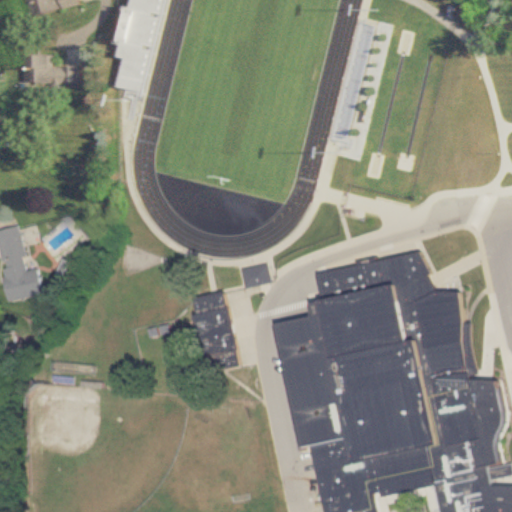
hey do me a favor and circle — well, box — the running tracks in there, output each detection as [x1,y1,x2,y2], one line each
[132,0,362,256]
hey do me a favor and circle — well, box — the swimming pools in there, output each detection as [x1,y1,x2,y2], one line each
[42,217,90,264]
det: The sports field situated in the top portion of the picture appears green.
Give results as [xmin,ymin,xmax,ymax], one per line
[154,0,340,204]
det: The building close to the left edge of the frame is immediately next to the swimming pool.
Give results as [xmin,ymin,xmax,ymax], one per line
[0,228,44,301]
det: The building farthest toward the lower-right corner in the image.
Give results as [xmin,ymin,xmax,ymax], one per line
[272,250,512,512]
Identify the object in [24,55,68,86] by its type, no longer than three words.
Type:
house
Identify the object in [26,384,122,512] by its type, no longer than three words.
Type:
baseball field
